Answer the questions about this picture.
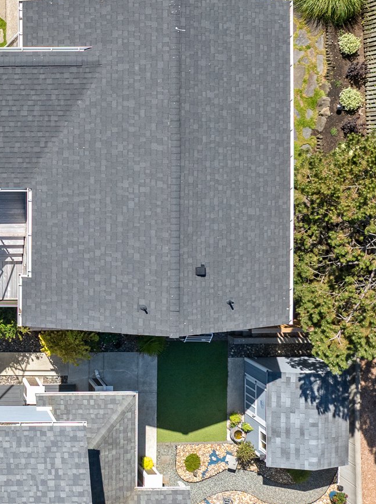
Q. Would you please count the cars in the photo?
none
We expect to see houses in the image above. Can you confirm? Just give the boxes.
[0,368,192,504]
[0,0,297,338]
